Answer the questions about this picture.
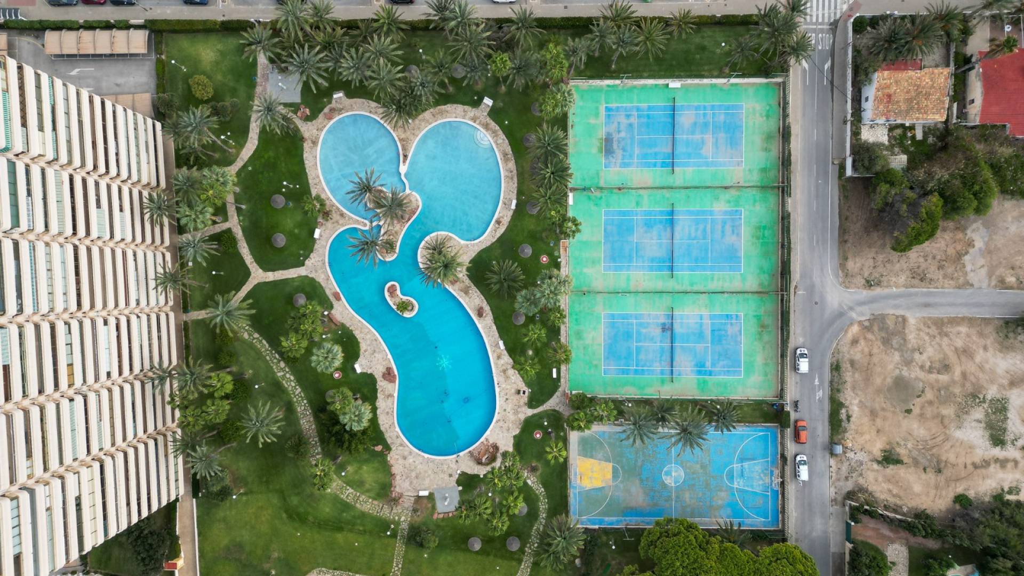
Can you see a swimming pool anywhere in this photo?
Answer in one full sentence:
Yes, the photo shows a swimming pool.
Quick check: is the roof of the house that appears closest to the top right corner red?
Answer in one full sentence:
Yes, the roof of the house that appears closest to the top right corner is indeed red.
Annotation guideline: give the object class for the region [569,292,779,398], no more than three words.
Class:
tennis court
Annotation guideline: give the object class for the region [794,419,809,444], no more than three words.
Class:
car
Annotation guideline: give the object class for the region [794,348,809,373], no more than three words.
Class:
car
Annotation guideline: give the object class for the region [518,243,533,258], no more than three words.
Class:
umbrella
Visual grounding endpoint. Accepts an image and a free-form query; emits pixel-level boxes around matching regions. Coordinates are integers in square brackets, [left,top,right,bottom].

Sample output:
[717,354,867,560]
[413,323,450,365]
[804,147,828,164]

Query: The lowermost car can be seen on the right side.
[794,454,809,481]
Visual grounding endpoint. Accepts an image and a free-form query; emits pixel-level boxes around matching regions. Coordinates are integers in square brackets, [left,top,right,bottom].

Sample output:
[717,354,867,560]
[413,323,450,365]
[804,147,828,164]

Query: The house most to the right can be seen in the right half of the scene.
[967,49,1024,138]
